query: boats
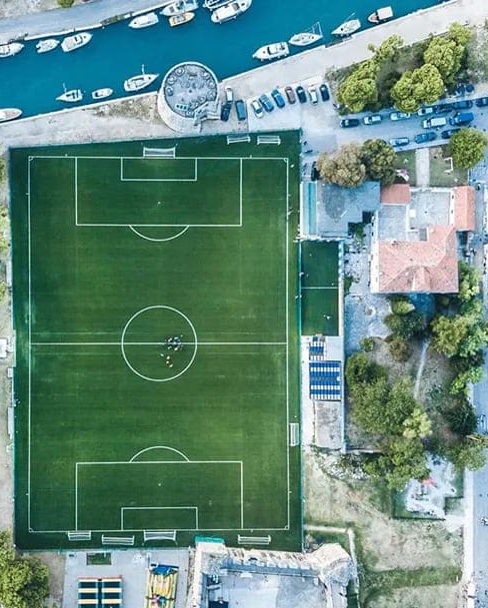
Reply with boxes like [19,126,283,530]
[368,6,394,21]
[253,40,293,60]
[122,70,157,92]
[287,22,323,48]
[204,0,231,8]
[57,33,90,54]
[33,39,58,53]
[0,107,21,122]
[168,14,194,26]
[161,0,202,14]
[0,43,22,57]
[130,9,161,27]
[210,1,251,25]
[332,14,362,34]
[90,90,112,100]
[56,87,83,102]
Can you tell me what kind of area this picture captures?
sports ground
